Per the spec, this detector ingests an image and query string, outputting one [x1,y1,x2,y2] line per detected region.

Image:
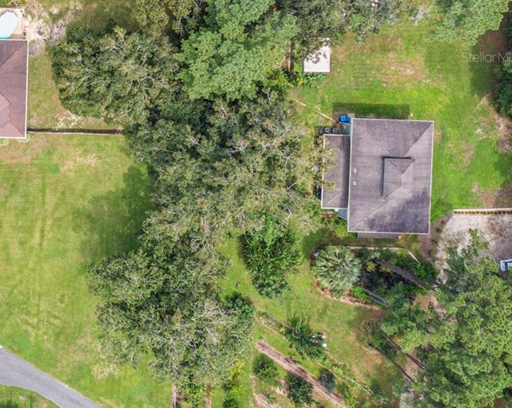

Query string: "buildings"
[0,38,29,139]
[296,40,330,73]
[314,118,435,239]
